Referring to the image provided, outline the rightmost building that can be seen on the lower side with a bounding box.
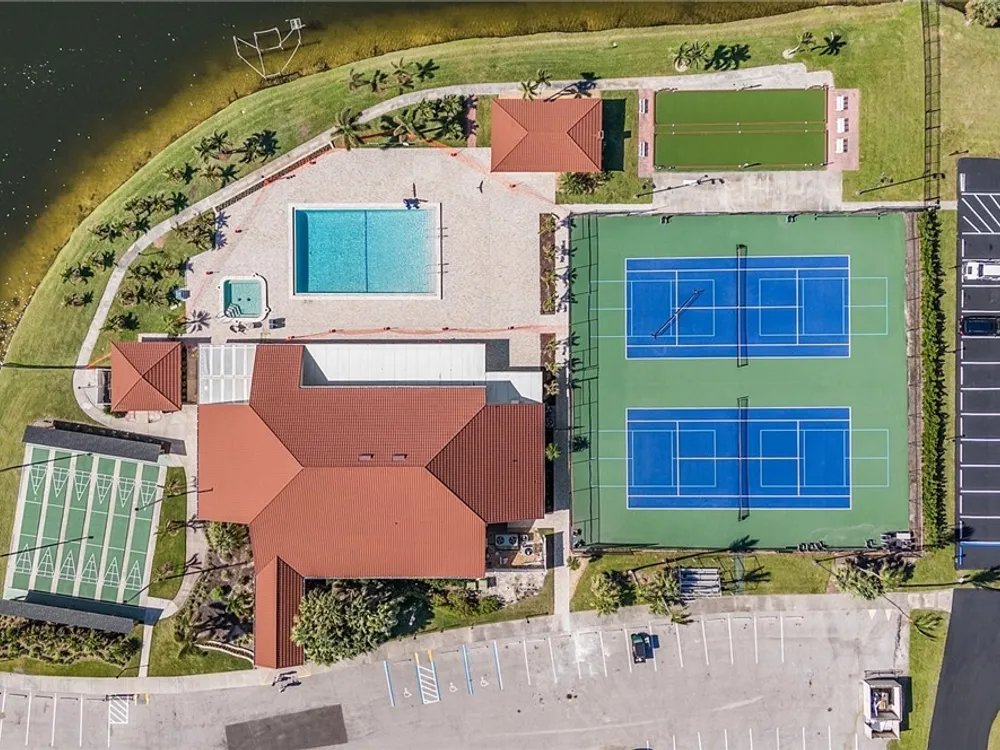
[194,344,547,670]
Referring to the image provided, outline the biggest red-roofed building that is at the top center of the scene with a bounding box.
[490,97,603,173]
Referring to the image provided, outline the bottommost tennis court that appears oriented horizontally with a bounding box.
[598,407,889,510]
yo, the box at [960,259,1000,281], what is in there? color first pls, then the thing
white car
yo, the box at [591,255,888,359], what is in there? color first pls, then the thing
blue tennis court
